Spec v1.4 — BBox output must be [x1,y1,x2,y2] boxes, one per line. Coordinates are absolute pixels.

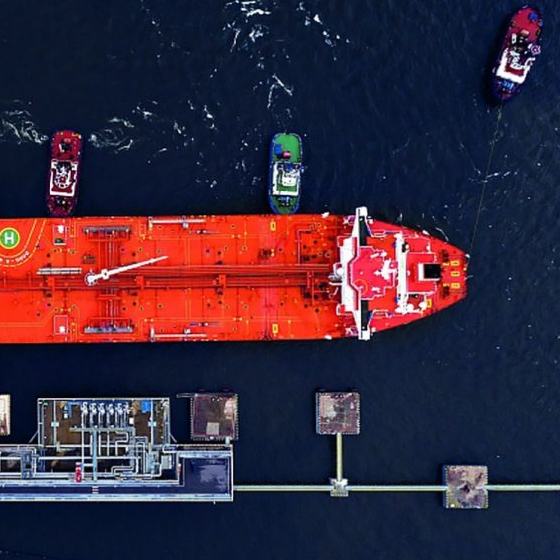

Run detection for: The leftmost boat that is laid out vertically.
[47,130,84,217]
